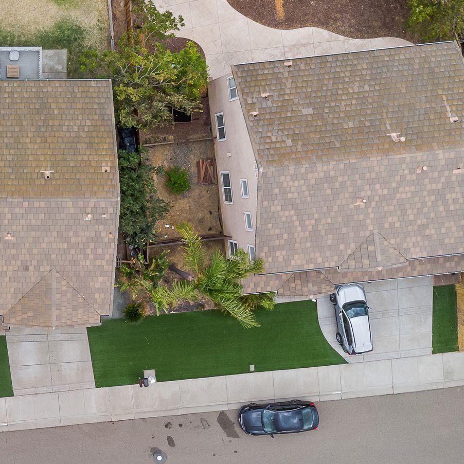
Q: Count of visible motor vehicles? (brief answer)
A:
two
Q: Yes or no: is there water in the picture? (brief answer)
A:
No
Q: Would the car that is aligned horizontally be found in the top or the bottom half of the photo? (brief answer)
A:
bottom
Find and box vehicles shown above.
[330,285,377,356]
[237,398,318,439]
